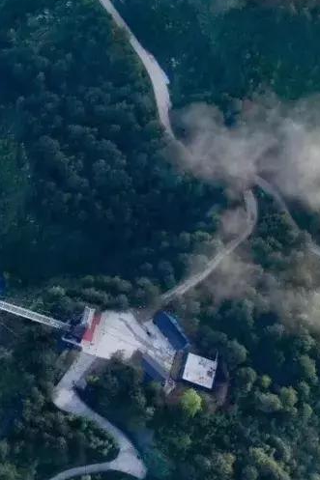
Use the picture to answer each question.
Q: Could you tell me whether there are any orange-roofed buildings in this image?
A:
No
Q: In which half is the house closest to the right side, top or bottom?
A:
bottom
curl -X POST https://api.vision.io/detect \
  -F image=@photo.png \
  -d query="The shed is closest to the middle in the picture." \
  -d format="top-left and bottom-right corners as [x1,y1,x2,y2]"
[152,311,191,352]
